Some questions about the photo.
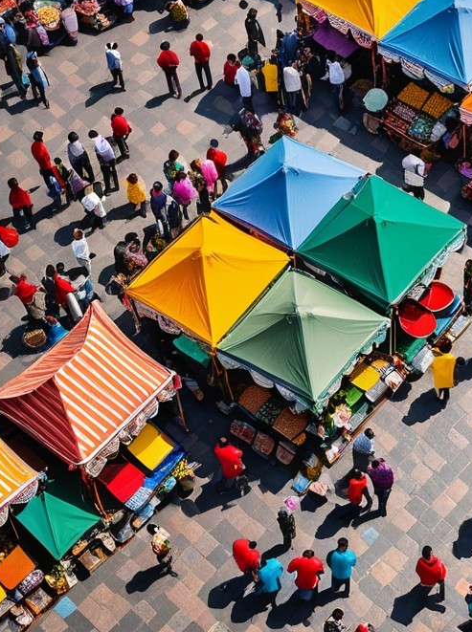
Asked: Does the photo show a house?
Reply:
No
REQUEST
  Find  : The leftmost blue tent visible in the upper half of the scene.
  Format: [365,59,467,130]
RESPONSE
[211,136,369,272]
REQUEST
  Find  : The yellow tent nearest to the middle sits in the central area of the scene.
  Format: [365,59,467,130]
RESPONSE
[124,214,291,403]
